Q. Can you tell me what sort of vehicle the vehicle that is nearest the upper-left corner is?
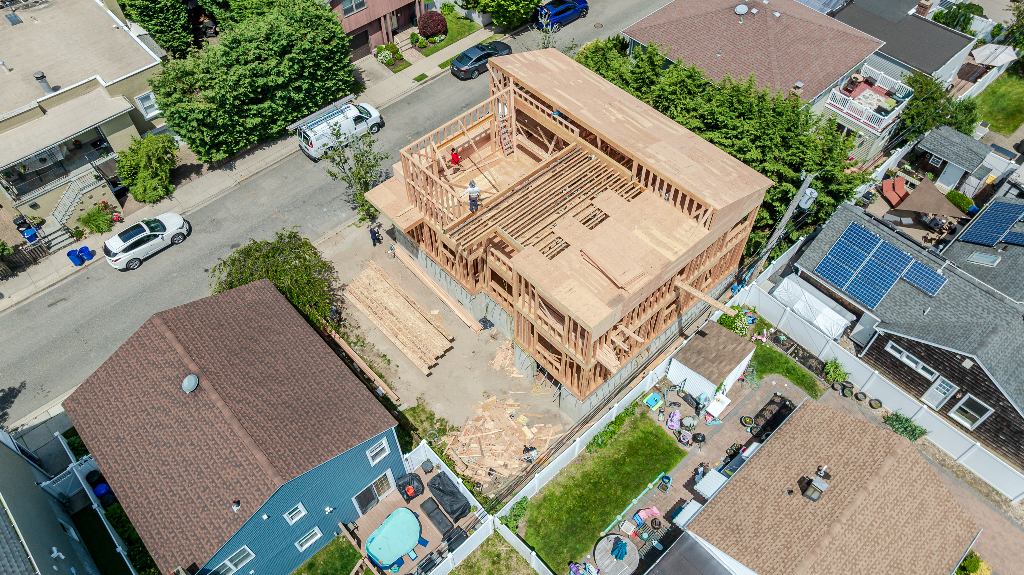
car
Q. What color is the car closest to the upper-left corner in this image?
white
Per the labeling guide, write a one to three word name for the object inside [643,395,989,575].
house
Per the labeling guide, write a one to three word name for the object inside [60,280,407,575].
house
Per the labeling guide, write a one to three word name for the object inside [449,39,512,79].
car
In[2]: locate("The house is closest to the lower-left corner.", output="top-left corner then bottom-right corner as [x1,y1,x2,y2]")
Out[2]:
[0,446,102,575]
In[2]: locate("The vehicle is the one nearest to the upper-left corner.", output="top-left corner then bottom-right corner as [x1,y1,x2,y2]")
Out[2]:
[97,212,189,272]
